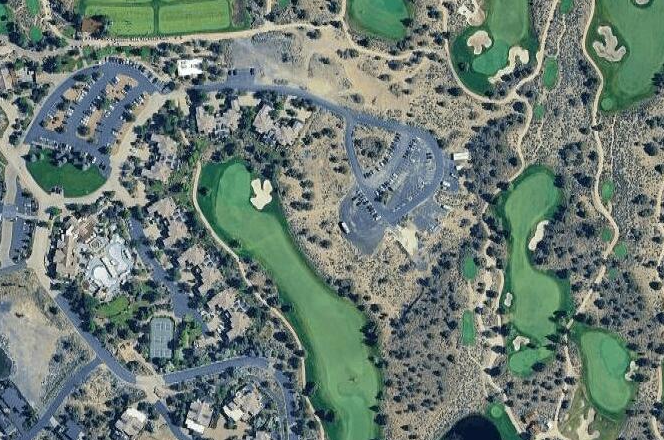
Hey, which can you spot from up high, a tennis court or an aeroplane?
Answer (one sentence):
Of the two, only a tennis court appears.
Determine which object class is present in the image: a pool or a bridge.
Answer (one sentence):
Of the two, only a pool appears.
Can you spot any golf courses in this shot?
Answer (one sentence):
Yes, the picture does show a golf course.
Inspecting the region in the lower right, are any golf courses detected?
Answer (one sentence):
Yes, looking in the lower right, one can make out a golf course.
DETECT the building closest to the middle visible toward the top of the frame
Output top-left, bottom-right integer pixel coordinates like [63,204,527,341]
[272,119,304,147]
